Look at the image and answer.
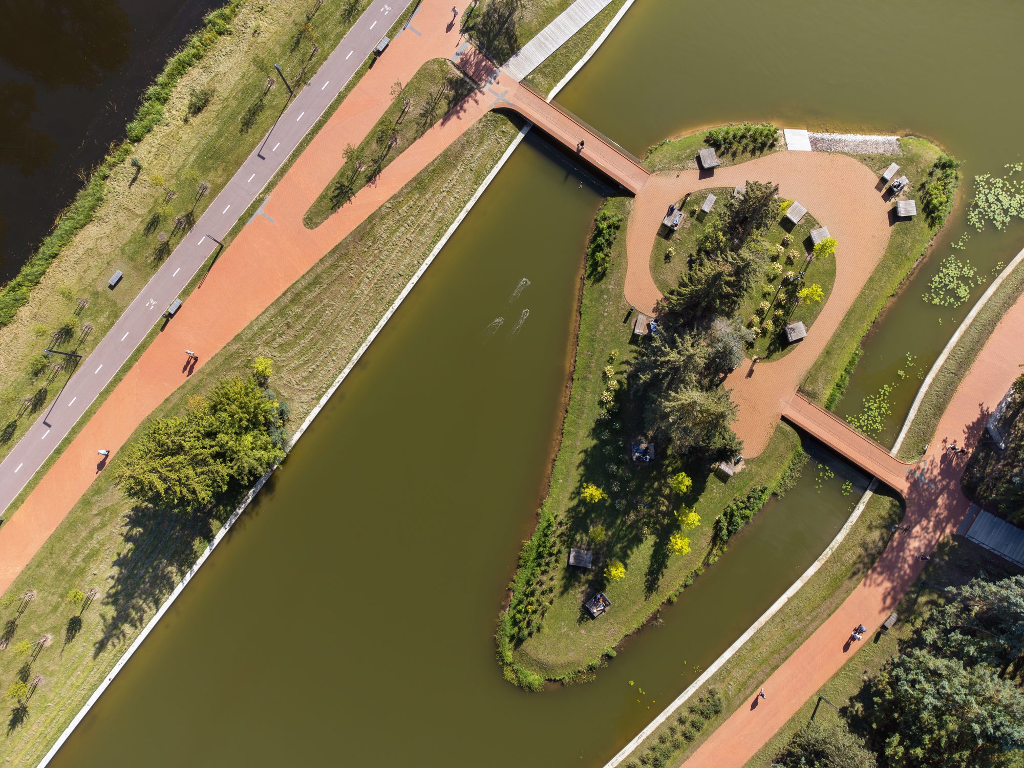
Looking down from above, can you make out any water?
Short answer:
Yes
